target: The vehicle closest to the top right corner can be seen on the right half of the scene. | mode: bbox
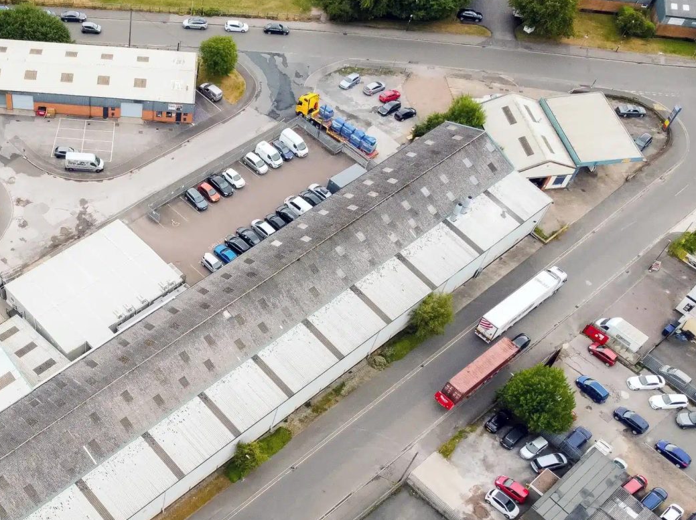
[615,105,645,119]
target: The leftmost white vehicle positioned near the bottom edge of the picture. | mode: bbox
[484,492,521,520]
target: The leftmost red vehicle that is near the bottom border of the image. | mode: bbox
[495,478,530,506]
